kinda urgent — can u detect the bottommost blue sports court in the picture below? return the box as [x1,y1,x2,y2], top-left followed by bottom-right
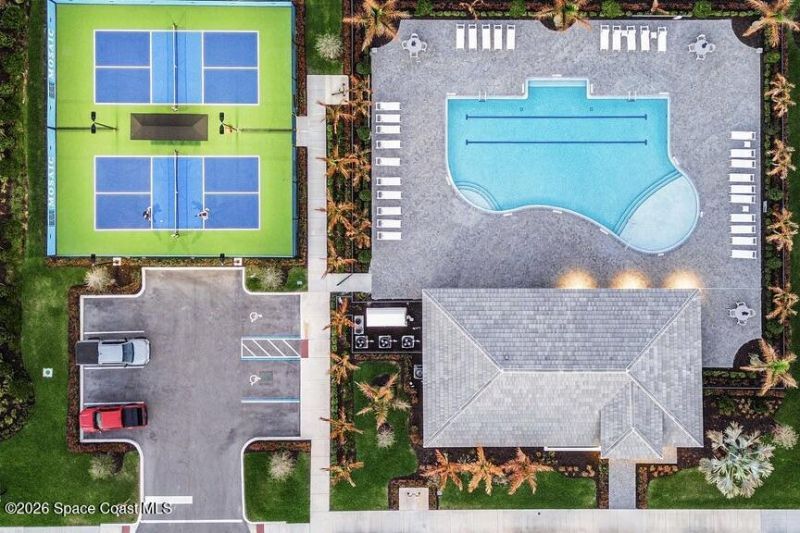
[94,156,259,231]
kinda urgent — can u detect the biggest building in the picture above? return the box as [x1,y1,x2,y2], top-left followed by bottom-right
[422,288,705,460]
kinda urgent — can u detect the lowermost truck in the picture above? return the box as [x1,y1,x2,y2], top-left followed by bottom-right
[79,405,149,435]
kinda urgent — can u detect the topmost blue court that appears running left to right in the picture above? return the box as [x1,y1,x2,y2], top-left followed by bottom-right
[94,30,259,104]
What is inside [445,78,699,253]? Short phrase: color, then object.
blue swimming pool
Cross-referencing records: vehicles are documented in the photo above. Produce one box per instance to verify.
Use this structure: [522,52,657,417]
[79,405,149,435]
[76,338,151,368]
